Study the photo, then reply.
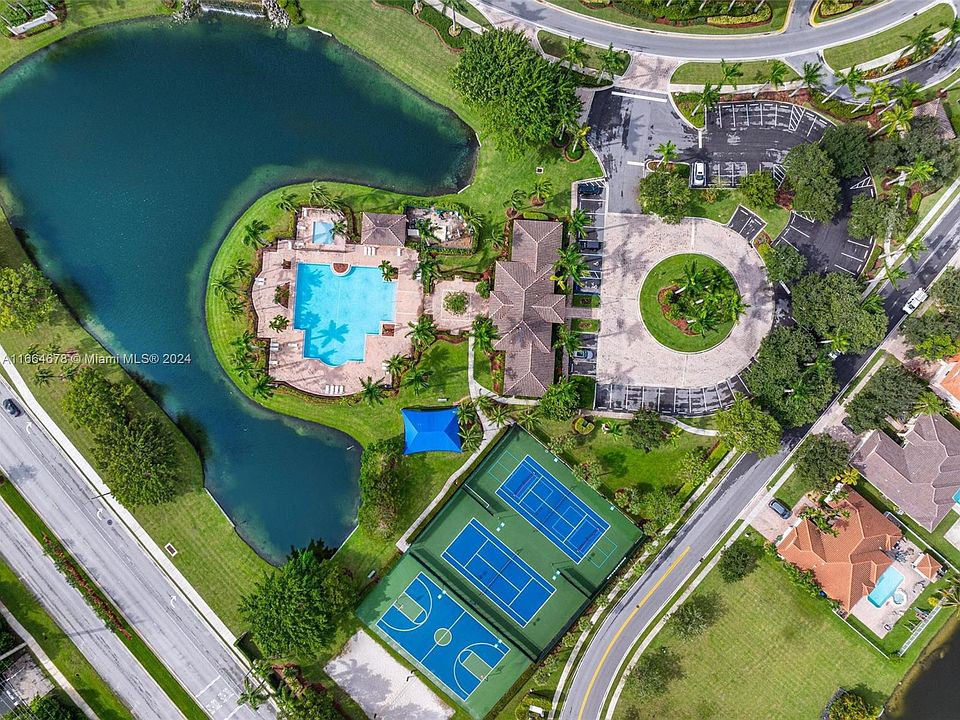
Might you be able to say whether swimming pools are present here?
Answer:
Yes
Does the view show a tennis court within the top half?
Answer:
No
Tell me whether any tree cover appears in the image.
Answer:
Yes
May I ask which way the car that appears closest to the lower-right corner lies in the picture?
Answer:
at an angle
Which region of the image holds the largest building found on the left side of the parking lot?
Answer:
center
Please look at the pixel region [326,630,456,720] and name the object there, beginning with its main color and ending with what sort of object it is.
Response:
white sports court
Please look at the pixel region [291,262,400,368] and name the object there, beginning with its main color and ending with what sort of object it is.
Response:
blue swimming pool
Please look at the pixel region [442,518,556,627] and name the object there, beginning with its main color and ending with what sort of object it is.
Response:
blue tennis court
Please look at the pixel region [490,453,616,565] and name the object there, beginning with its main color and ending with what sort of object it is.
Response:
blue tennis court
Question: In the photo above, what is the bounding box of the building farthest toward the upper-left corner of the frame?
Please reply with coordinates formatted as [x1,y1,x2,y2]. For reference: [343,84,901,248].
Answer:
[361,213,407,248]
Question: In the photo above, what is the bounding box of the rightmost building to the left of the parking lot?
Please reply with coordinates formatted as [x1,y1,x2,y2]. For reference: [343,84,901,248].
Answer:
[489,220,566,397]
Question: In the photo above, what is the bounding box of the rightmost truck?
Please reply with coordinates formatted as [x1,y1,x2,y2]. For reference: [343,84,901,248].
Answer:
[903,288,932,316]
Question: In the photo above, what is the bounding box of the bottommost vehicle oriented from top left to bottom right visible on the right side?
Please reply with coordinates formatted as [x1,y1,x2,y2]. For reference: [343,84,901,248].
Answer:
[771,499,793,519]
